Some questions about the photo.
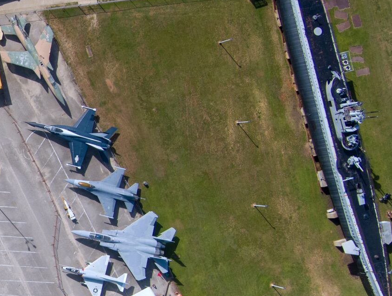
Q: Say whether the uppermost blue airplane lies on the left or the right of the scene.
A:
left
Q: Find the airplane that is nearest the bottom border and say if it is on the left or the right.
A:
left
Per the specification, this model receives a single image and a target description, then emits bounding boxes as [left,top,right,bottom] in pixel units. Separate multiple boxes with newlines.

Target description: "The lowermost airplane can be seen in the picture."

[57,257,130,296]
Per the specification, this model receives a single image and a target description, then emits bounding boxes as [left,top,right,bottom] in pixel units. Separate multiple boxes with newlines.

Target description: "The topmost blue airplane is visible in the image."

[26,103,117,168]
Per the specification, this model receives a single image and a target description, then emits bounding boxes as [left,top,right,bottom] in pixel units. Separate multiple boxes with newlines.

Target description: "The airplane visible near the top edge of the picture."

[0,10,65,104]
